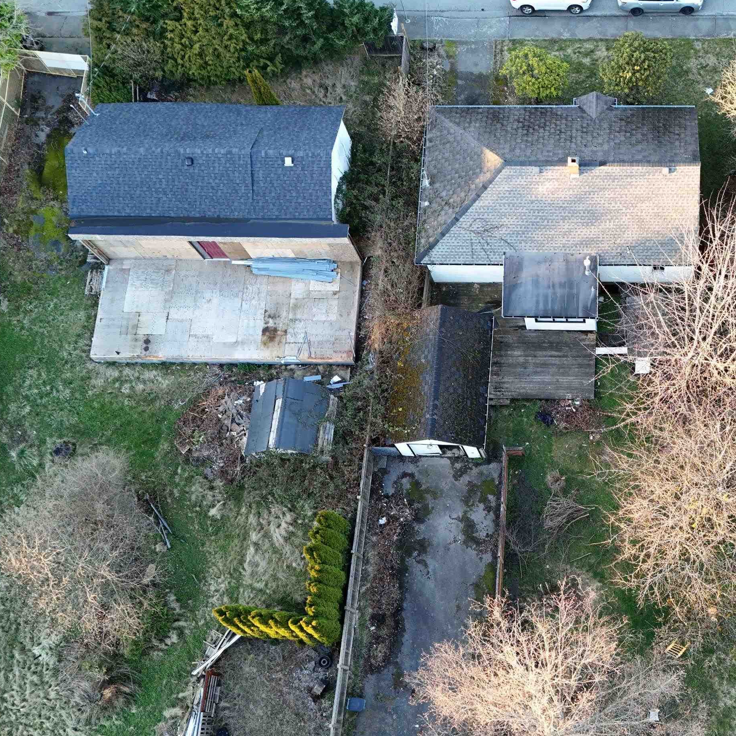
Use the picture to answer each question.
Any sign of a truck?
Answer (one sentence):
No, there appears to be no truck in this shot.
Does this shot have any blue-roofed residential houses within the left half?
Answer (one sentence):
Yes, a blue-roofed residential house shows up within the left half.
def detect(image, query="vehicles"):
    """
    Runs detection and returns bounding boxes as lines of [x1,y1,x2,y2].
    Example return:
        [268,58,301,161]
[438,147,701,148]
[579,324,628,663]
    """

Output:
[615,0,704,16]
[509,0,592,16]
